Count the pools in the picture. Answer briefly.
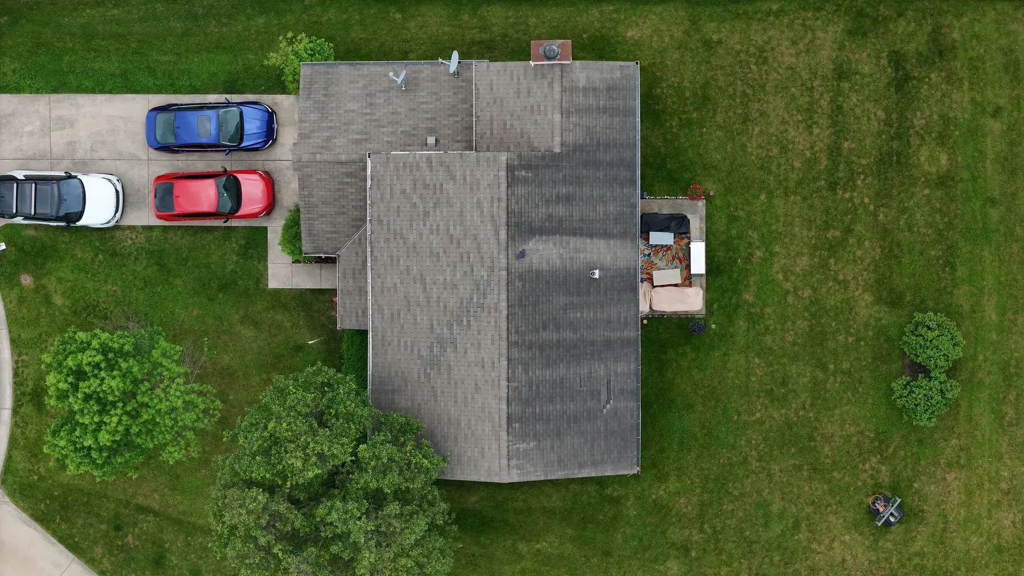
none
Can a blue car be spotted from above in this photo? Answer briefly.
Yes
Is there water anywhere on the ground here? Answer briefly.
No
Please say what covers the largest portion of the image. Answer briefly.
grass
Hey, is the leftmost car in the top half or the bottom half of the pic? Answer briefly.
top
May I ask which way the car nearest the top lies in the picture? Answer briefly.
horizontally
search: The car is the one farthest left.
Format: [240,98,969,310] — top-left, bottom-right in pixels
[0,166,127,230]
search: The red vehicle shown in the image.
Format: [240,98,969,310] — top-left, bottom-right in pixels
[149,165,276,223]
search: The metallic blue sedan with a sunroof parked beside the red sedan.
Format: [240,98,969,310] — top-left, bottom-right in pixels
[143,96,278,155]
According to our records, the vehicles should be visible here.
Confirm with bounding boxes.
[0,166,127,230]
[143,96,278,155]
[149,165,276,223]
